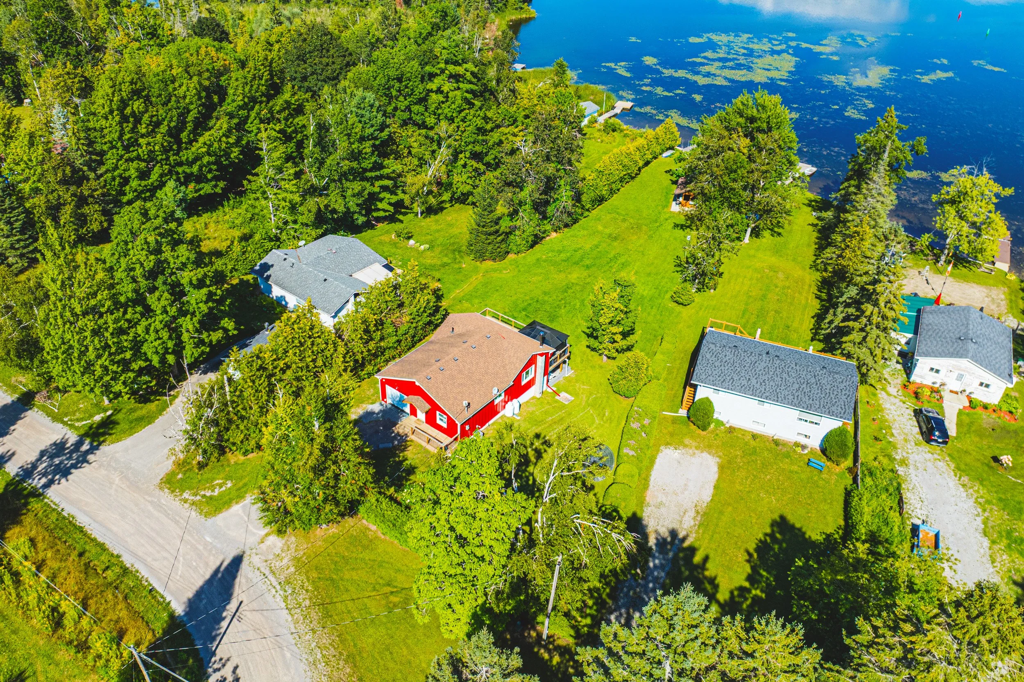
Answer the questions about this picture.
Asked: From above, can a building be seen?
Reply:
Yes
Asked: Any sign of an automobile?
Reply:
Yes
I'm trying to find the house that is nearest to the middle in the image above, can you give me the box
[374,313,579,459]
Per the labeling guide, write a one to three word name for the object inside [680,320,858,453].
house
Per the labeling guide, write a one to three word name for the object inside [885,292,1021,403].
house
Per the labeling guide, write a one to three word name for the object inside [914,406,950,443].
car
